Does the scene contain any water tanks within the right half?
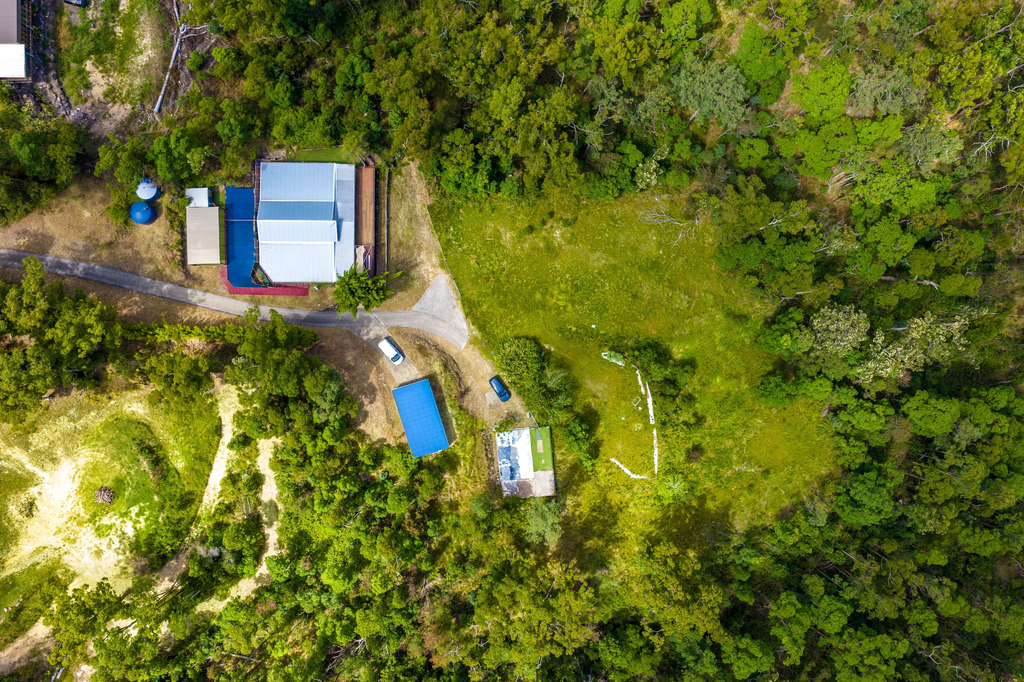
No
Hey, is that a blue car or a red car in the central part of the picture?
blue car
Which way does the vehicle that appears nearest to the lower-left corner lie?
on a diagonal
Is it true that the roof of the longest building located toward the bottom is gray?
No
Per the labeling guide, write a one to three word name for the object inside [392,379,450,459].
building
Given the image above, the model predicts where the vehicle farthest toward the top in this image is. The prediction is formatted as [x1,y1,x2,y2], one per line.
[378,337,405,367]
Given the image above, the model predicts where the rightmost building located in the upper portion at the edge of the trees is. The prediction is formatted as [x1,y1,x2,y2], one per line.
[255,160,376,283]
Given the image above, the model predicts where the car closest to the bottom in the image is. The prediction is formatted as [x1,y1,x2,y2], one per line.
[487,375,511,403]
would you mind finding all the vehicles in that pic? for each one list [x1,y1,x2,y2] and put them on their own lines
[378,337,405,367]
[487,375,511,403]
